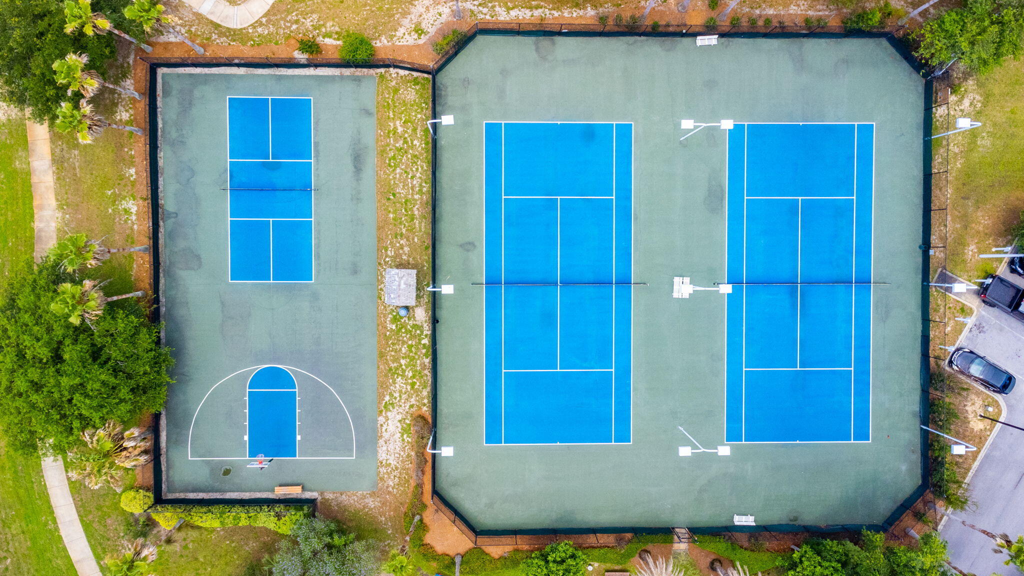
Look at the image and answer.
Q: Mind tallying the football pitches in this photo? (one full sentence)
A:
The count of football pitches is 0.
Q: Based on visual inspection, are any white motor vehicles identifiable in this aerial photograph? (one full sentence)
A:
No, I can see no white motor vehicle in this picture.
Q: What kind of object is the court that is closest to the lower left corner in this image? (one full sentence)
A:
From above, the court that is closest to the lower left corner can be identified as a basketball court.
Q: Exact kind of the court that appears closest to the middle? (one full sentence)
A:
It looks like the court that appears closest to the middle is a tennis court.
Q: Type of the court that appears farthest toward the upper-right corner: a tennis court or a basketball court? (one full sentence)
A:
The court that appears farthest toward the upper-right corner in the image is a tennis court.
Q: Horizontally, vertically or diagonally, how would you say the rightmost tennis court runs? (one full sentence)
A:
The rightmost tennis court runs vertically in the image.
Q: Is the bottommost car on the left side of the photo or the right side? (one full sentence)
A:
It is on the right.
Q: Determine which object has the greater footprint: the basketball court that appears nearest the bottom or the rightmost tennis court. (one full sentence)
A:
The tennis court is larger than the basketball court.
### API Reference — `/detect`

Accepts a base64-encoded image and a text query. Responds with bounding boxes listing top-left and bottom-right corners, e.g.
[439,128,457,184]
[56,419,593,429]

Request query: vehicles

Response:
[948,347,1015,396]
[1009,252,1024,280]
[977,274,1024,322]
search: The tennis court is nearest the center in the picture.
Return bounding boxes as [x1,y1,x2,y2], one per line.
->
[484,122,633,444]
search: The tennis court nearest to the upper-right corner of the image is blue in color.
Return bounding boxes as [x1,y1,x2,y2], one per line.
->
[725,123,875,443]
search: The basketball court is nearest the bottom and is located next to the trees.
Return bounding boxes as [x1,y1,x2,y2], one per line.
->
[190,365,355,460]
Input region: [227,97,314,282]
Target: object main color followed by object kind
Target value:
blue sports court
